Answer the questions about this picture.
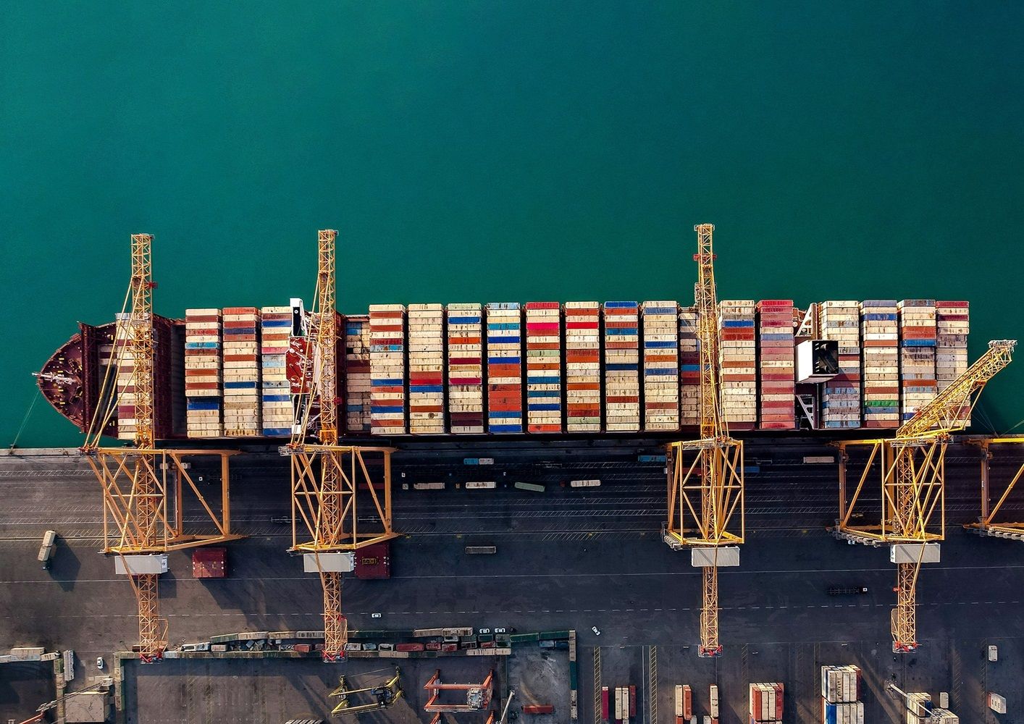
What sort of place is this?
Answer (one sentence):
The area seen from above is a port.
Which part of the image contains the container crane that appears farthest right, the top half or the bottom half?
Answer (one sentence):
It is in the bottom half that the container crane that appears farthest right appears.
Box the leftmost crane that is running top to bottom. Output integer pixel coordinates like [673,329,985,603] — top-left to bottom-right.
[78,232,254,661]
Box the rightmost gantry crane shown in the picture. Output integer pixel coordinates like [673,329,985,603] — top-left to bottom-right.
[957,436,1024,539]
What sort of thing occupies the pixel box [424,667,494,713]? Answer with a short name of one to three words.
container crane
